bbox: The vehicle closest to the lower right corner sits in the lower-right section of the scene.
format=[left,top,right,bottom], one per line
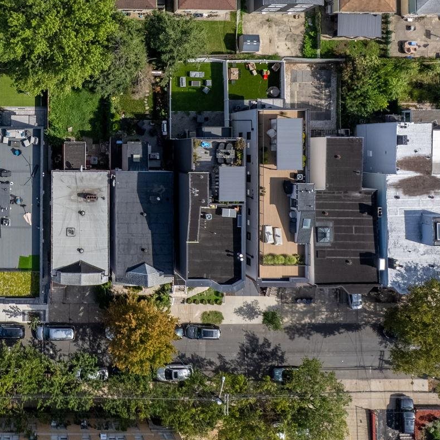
[396,395,416,437]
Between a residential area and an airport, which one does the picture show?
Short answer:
residential area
